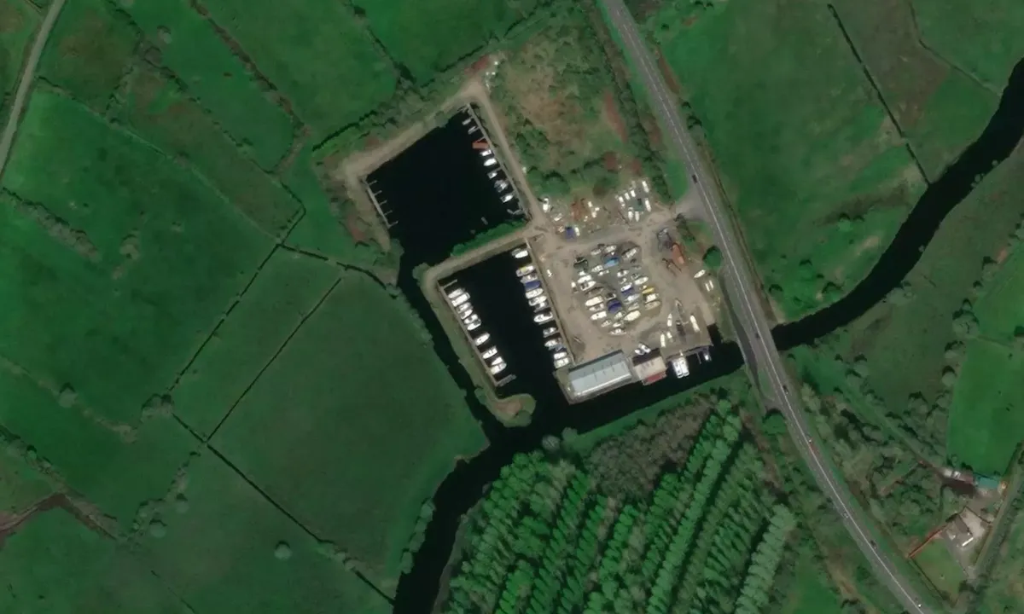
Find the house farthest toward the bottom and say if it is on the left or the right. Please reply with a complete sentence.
The house farthest toward the bottom appears in the right half of the scene.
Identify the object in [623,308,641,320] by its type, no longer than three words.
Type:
boat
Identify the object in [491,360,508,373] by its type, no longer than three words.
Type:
boat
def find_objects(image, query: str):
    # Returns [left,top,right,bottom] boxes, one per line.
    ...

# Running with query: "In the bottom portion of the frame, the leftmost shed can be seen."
[570,353,632,397]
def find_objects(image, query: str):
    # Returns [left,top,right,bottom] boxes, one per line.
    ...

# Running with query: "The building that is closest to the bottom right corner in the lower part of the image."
[945,515,973,545]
